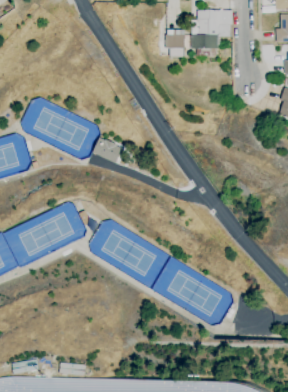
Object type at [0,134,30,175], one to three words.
tennis court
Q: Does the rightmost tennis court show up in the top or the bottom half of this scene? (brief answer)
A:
bottom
